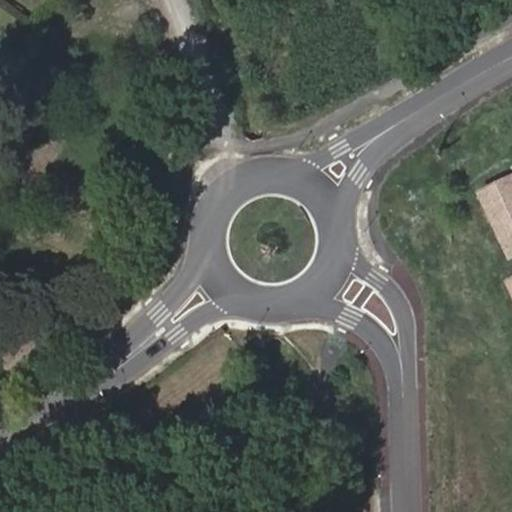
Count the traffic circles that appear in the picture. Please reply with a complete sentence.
In total, 1 traffic circle can be seen.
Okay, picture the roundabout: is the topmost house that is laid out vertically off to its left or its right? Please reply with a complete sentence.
You can see the topmost house that is laid out vertically positioned to the right of the roundabout.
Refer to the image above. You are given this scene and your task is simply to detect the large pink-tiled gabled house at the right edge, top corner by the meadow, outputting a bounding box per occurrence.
[476,176,512,261]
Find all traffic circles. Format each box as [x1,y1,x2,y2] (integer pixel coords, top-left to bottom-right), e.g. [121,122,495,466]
[188,158,357,321]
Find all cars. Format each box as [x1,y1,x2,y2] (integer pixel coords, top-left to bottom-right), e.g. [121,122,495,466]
[146,340,165,357]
